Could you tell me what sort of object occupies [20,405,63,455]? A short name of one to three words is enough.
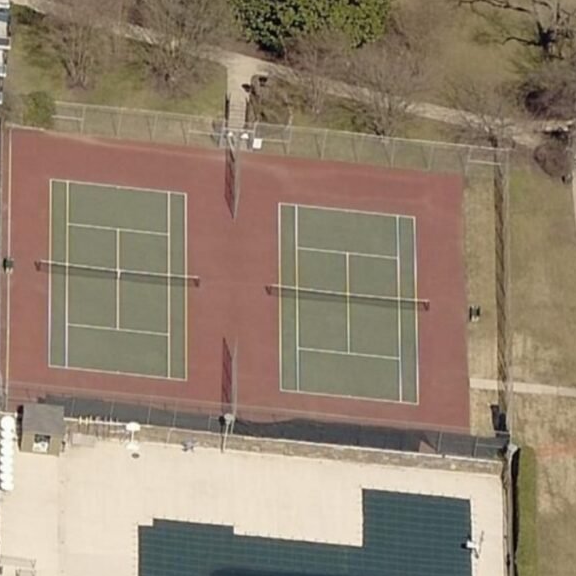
shed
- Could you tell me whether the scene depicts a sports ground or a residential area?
sports ground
